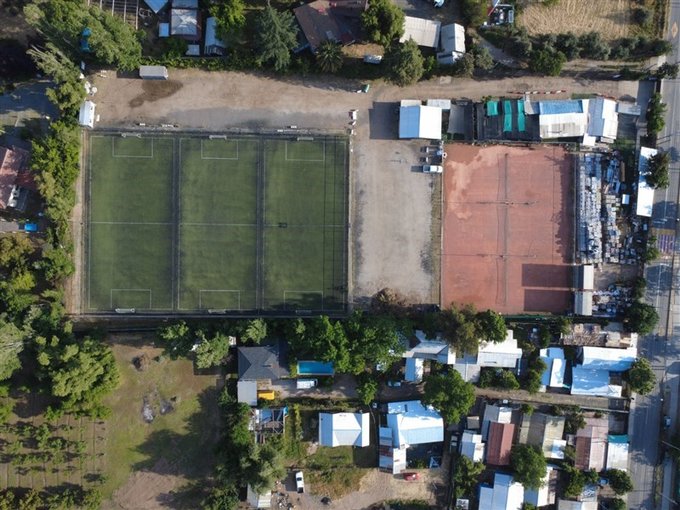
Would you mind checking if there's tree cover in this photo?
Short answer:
Yes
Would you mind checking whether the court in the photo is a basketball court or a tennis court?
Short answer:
tennis court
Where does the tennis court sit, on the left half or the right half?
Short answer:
right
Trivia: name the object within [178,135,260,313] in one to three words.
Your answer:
soccer field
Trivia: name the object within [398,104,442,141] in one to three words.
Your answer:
building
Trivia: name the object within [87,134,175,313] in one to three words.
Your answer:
soccer field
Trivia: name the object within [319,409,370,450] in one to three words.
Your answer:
house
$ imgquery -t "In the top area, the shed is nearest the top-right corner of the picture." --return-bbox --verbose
[617,103,641,118]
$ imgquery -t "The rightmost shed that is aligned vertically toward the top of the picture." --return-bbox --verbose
[630,147,659,217]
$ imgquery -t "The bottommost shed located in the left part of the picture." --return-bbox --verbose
[247,481,272,509]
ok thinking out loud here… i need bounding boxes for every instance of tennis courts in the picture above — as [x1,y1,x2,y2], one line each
[441,144,577,317]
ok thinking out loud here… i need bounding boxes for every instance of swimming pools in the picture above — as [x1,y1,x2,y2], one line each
[298,361,333,376]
